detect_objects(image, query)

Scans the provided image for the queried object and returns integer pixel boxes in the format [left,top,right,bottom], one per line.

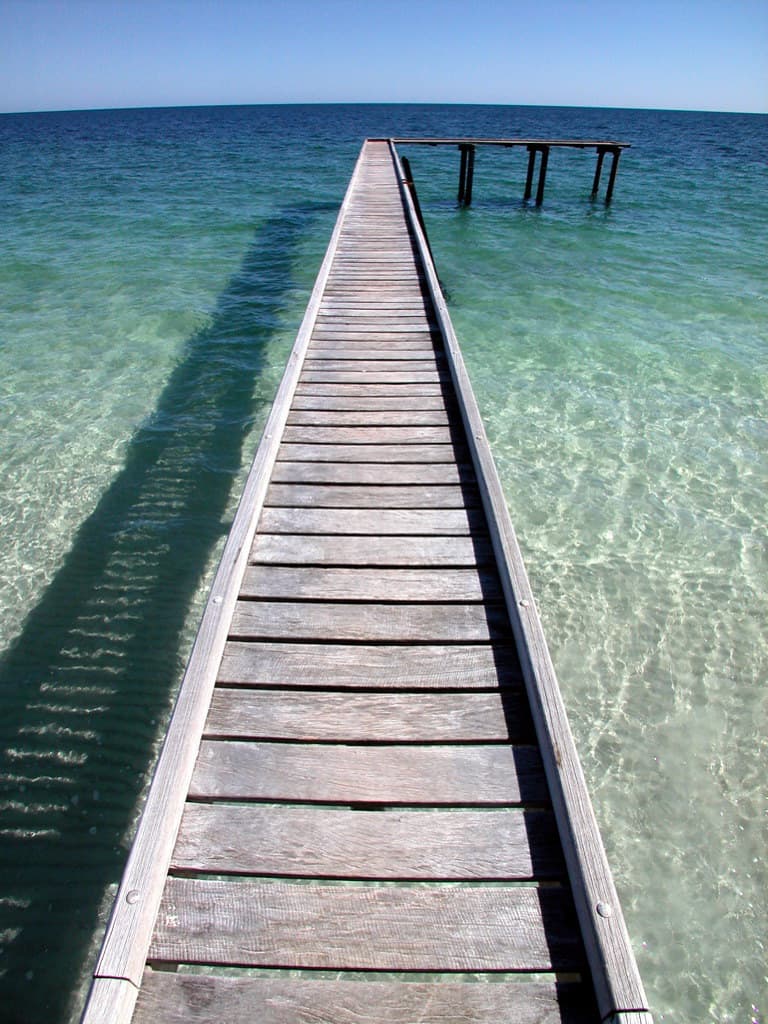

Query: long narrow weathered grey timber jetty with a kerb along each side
[79,142,653,1024]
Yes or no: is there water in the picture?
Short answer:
Yes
